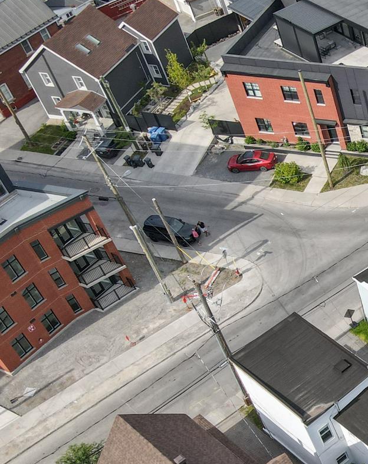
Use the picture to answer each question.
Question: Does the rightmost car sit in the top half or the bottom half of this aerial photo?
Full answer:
The rightmost car sits in the top half of the picture.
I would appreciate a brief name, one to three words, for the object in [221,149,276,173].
car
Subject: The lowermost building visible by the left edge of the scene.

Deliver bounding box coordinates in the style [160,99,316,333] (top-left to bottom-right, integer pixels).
[0,159,141,373]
